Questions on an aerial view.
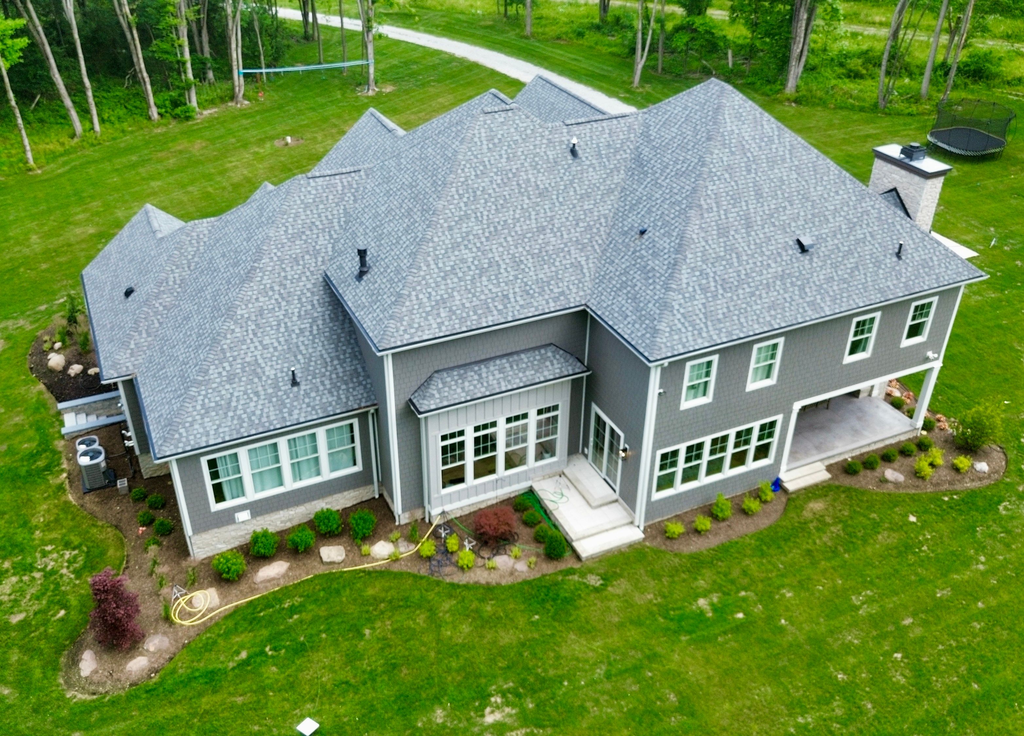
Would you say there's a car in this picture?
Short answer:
No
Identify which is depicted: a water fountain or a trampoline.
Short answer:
trampoline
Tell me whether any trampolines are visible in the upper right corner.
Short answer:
Yes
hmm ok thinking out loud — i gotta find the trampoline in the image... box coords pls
[927,100,1016,163]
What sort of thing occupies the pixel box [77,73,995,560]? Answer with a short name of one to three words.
house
